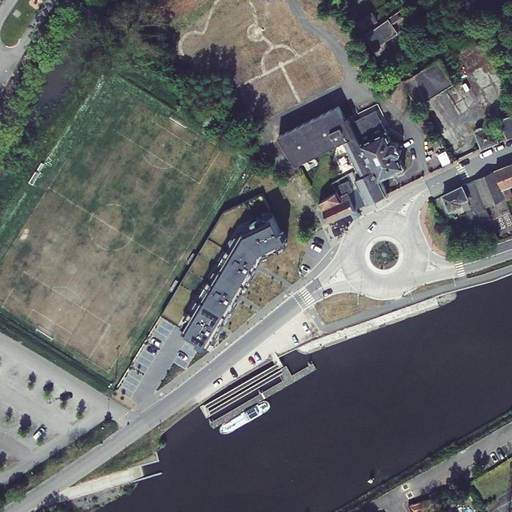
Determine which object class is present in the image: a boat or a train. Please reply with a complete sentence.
Of the two, only a boat appears.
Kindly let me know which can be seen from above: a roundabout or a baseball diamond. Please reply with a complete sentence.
I can see a roundabout in this picture.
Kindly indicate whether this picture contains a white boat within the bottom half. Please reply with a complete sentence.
Yes, looking within the bottom half, one can make out a white boat.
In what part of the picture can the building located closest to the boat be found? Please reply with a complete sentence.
The building located closest to the boat appears toward the center of the photo.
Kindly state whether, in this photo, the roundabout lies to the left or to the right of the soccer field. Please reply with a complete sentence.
The roundabout is to the right of the soccer field.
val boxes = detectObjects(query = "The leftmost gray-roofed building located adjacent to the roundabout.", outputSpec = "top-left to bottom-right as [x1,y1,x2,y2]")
[180,216,288,350]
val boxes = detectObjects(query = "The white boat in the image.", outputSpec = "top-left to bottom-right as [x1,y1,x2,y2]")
[220,401,270,435]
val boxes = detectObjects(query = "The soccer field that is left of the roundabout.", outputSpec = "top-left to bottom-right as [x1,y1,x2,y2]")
[0,76,249,380]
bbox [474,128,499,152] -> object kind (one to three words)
house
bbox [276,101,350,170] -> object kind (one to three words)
building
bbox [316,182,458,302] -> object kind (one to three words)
roundabout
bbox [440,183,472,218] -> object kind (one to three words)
house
